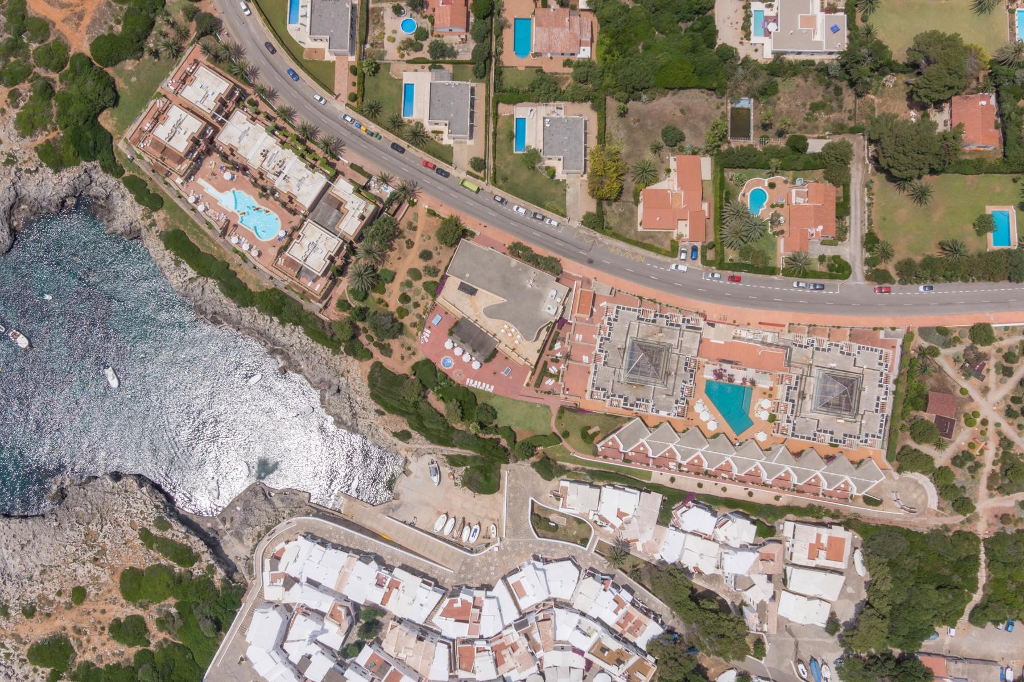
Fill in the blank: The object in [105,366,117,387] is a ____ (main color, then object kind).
white boat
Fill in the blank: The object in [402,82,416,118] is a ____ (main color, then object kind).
blue swimming pool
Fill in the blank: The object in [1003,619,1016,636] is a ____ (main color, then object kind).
blue vehicle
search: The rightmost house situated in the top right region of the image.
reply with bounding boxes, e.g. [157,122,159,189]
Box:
[947,92,1000,149]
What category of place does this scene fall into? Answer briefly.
residential area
